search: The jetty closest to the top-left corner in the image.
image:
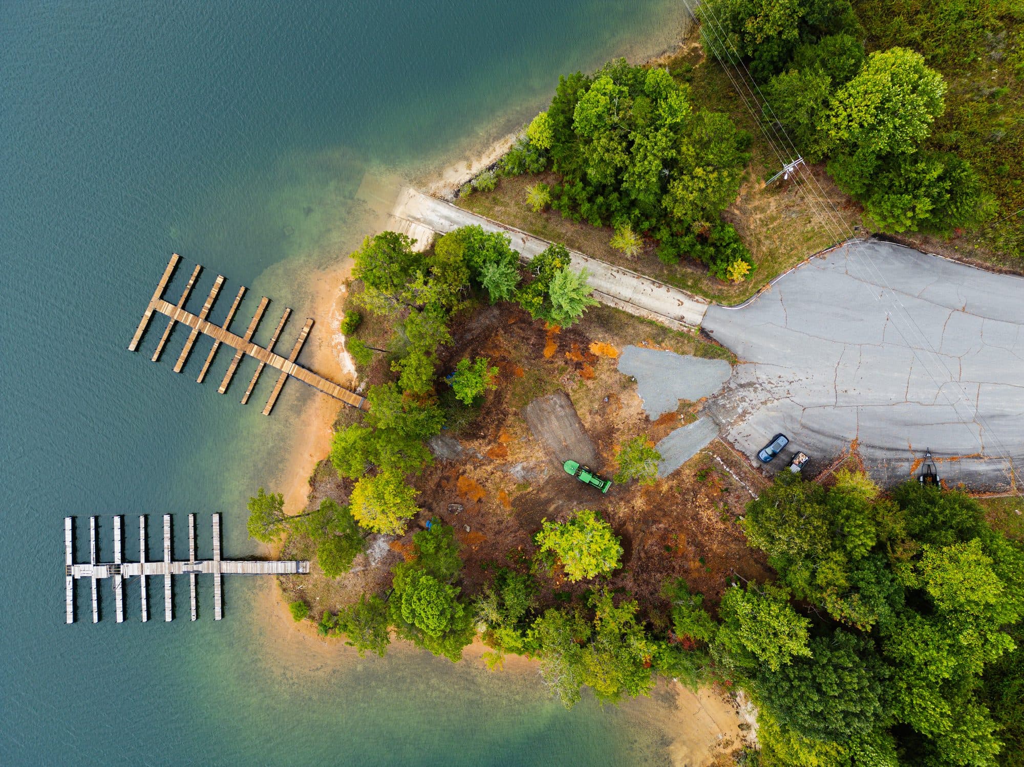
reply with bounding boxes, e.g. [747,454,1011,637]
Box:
[125,253,370,416]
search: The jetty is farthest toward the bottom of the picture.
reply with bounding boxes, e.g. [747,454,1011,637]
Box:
[62,513,309,624]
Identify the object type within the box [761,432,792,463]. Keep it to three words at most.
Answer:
car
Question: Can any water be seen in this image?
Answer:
Yes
